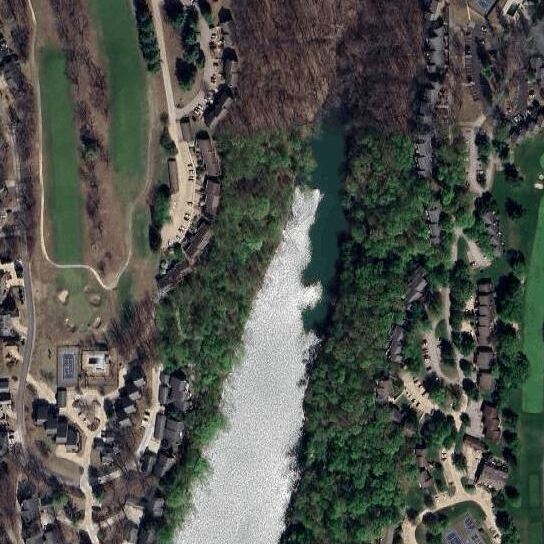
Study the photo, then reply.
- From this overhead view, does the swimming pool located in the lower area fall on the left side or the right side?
left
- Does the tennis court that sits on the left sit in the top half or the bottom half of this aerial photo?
bottom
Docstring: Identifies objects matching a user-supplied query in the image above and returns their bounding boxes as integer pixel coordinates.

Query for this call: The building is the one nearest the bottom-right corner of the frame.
[476,459,513,489]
